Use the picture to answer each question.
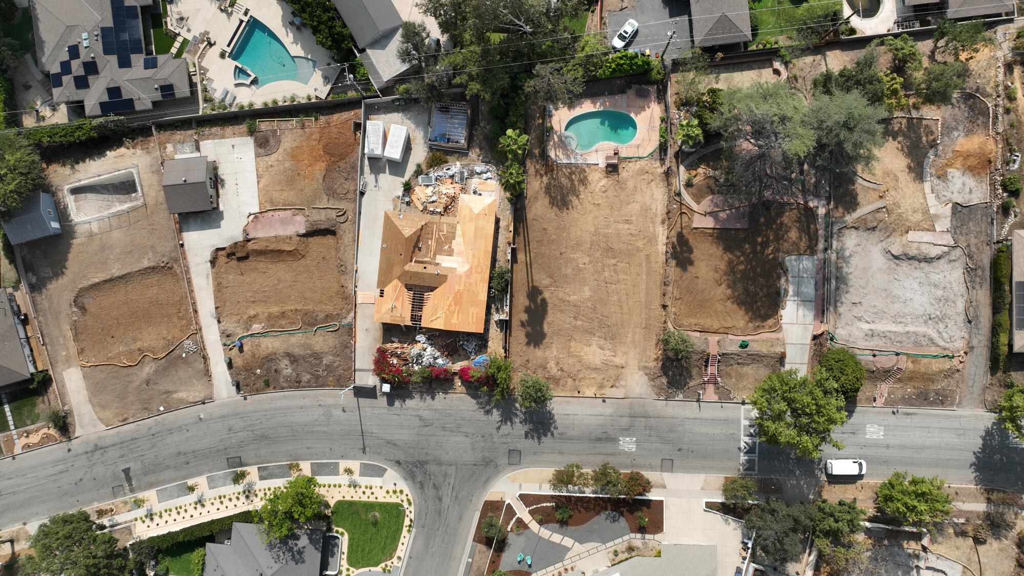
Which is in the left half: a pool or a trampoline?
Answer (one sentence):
The one visible in the left half is a pool.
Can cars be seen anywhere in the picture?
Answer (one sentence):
Yes, this view includes a car.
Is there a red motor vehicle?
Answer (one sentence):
No, there isn't any red motor vehicle down there.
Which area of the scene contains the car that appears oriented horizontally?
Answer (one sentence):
The car that appears oriented horizontally is located in the bottom right region of the scene.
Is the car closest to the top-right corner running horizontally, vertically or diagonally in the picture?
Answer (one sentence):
The car closest to the top-right corner is laid out diagonally.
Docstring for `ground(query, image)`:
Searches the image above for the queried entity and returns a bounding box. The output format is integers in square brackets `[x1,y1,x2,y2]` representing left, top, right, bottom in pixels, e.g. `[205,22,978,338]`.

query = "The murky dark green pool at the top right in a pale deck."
[841,0,883,20]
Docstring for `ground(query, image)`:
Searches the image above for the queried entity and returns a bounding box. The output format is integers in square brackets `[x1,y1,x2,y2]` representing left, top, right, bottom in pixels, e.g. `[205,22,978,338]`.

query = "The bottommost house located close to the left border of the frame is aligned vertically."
[0,288,46,386]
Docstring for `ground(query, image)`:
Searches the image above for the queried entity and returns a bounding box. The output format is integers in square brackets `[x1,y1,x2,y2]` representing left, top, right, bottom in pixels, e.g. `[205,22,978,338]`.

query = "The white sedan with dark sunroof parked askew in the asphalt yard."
[610,11,643,52]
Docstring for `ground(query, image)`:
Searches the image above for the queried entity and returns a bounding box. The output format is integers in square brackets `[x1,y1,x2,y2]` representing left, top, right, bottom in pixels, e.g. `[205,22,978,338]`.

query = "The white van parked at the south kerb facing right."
[827,459,869,479]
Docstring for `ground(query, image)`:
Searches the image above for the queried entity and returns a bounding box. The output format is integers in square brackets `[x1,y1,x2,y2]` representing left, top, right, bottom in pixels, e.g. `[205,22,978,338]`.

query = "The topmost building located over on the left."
[341,0,403,50]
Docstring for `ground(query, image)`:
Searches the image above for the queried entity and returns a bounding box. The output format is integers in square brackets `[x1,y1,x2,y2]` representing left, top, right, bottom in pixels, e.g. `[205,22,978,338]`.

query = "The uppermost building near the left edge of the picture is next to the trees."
[33,0,199,117]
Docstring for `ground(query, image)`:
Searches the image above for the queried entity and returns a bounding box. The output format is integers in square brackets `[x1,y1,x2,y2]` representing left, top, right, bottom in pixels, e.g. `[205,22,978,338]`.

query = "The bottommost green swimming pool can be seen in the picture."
[562,108,639,154]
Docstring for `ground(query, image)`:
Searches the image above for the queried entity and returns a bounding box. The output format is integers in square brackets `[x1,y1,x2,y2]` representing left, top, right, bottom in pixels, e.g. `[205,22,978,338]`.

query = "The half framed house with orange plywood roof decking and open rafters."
[374,195,496,332]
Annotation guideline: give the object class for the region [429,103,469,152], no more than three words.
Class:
shed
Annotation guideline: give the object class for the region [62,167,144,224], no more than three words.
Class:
swimming pool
